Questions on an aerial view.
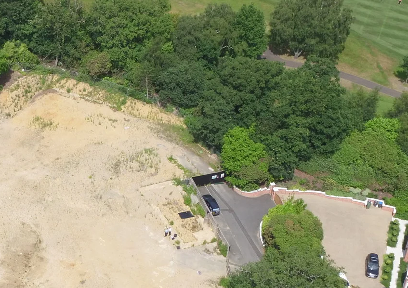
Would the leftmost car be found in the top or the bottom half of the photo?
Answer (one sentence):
Seen from above, the leftmost car lies in the bottom half of the view.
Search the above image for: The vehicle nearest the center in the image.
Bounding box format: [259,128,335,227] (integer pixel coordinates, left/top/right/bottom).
[201,193,222,215]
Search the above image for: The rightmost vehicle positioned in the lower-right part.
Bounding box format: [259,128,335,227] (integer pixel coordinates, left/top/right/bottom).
[364,252,380,277]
